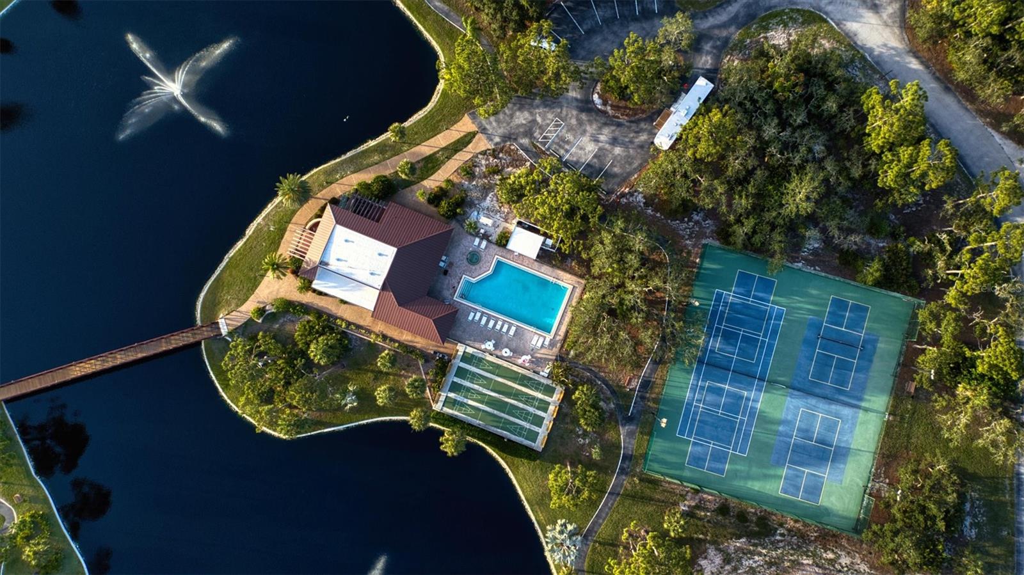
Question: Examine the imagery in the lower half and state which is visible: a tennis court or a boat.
tennis court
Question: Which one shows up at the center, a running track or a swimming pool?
swimming pool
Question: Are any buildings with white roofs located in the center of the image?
Yes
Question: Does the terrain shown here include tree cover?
Yes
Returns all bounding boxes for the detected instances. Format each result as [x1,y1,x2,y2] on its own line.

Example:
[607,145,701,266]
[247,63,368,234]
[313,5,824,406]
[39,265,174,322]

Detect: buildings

[506,226,544,259]
[299,202,458,345]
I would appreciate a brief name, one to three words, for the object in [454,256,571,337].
swimming pool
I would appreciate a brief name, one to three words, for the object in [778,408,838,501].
sports court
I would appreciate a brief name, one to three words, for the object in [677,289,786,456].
tennis court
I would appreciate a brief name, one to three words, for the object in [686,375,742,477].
sports court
